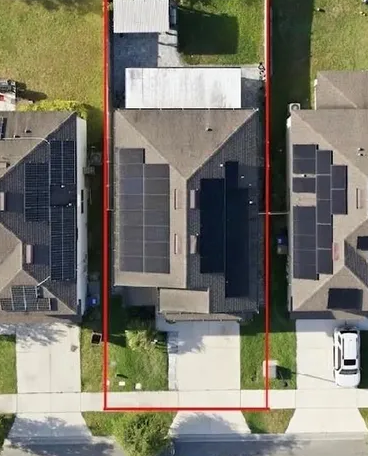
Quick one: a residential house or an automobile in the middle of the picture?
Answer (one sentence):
You can see a residential house in the middle of the picture.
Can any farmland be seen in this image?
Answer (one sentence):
No, no farmland is visible.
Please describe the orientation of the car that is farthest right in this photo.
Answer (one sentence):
From this overhead view, the car that is farthest right appears to run from top to bottom.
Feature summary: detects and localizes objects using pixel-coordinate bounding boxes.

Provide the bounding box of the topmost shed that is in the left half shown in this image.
[113,0,170,37]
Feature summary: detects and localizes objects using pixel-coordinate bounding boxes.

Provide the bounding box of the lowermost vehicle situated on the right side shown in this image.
[332,326,363,389]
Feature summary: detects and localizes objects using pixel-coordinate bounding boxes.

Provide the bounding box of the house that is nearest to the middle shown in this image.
[112,108,260,320]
